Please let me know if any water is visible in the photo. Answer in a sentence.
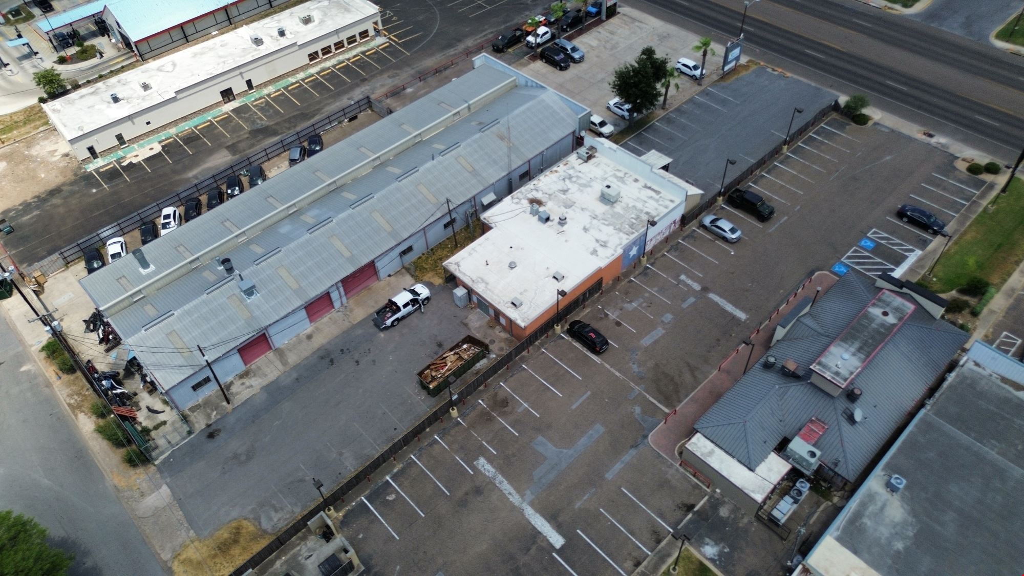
No, there is no water in the image.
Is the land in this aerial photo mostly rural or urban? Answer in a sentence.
The land in this view is best described as urban.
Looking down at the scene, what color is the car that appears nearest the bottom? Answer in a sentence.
From above, the car that appears nearest the bottom appears black.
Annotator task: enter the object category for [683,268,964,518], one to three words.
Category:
building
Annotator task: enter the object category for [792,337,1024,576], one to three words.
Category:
building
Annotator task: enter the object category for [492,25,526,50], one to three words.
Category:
truck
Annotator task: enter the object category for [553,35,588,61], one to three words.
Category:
car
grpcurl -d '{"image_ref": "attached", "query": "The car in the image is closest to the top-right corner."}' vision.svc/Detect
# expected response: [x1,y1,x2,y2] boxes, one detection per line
[899,202,948,232]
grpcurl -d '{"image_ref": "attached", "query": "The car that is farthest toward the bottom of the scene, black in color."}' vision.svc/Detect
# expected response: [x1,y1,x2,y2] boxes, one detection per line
[566,315,613,354]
